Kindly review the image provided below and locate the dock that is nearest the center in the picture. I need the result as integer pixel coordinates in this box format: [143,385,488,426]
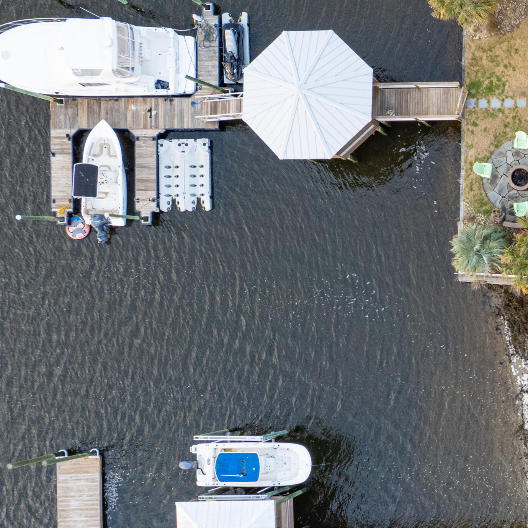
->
[158,139,214,212]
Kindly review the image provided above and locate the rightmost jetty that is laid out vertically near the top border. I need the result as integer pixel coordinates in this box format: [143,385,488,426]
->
[222,11,251,85]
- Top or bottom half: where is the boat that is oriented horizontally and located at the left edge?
top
